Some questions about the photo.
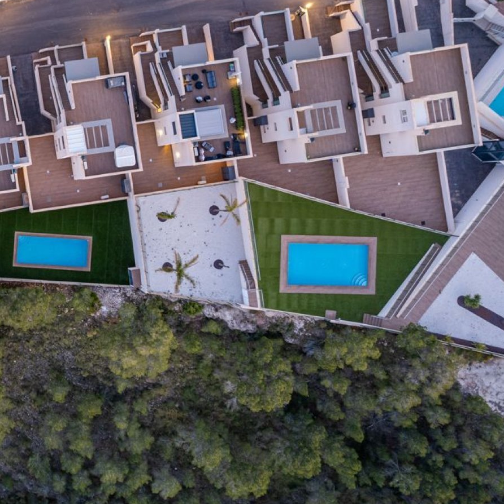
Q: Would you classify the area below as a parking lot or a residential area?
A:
residential area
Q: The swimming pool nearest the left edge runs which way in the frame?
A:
from side to side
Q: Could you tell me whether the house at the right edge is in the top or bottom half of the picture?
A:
top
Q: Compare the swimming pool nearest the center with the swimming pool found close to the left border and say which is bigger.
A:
the swimming pool nearest the center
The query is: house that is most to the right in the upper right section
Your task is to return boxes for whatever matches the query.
[362,29,482,156]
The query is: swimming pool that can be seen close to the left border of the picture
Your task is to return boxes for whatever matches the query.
[13,232,93,272]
